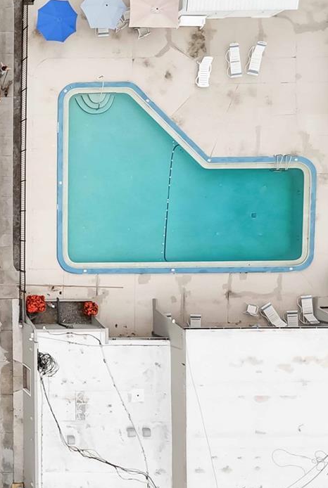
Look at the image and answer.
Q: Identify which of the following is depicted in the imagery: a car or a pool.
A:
pool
